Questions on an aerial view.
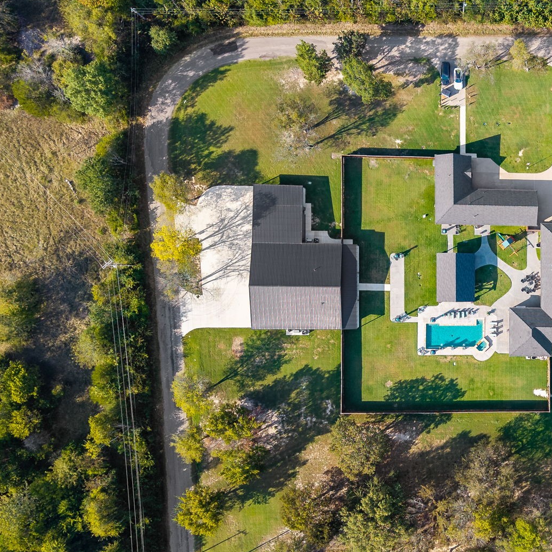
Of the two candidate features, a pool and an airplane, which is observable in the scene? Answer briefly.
pool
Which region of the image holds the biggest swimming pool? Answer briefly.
right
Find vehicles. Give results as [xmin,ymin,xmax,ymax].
[452,69,464,91]
[440,63,451,88]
